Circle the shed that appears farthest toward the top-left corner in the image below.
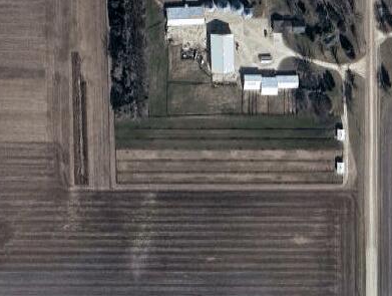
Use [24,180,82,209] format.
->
[166,7,204,26]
